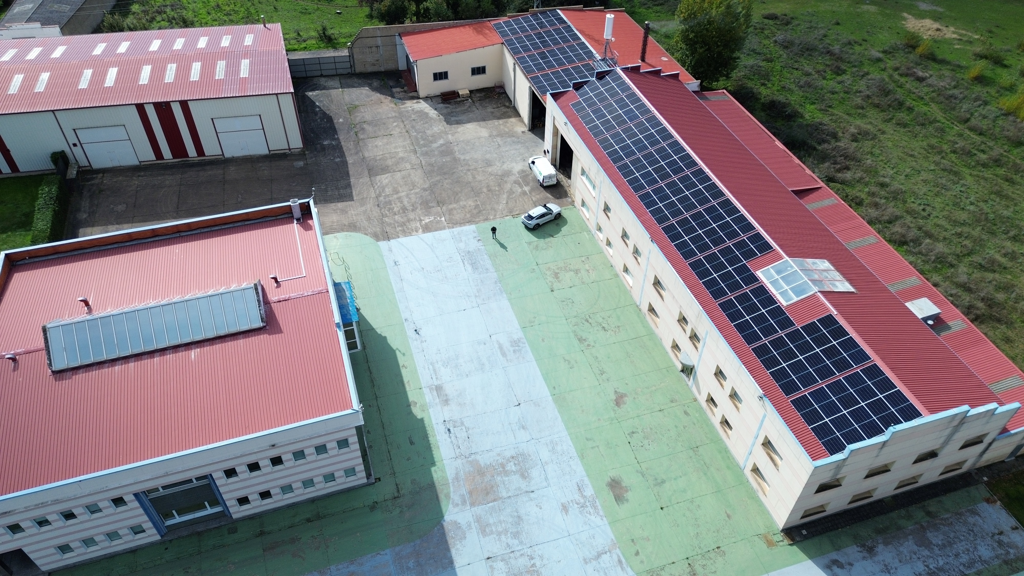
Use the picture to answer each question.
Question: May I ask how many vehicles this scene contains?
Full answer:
The picture shows 2 vehicles.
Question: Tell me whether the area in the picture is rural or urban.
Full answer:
From above, the setting appears urban.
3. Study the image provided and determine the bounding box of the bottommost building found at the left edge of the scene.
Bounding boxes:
[0,199,375,576]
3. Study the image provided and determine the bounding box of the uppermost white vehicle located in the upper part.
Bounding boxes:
[530,159,557,187]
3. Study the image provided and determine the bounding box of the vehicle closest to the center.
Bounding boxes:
[519,203,563,230]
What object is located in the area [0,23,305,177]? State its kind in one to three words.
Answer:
warehouse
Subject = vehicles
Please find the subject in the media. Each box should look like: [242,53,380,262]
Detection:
[519,203,563,230]
[530,159,557,187]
